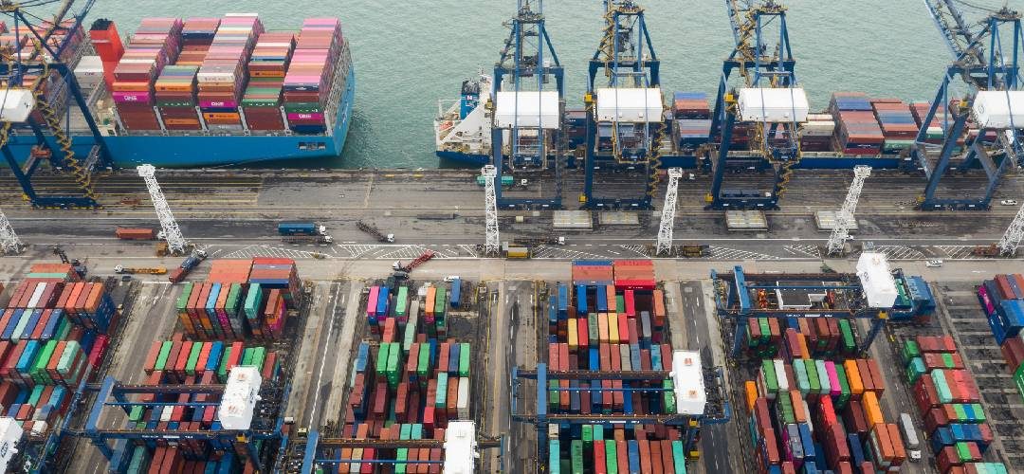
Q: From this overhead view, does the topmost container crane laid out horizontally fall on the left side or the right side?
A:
right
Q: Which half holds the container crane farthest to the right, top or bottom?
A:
top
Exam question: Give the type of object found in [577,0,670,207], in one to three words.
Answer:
container crane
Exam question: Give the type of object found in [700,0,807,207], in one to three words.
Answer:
container crane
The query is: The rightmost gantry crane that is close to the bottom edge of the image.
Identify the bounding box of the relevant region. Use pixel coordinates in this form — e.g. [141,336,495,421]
[511,355,732,464]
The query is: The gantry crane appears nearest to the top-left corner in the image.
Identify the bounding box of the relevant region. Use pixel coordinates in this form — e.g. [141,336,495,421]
[0,0,119,207]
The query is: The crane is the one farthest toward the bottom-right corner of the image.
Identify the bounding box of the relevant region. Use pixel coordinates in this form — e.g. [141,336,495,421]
[706,258,913,358]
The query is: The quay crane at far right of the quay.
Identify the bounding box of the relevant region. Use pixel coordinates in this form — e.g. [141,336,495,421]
[905,0,1024,207]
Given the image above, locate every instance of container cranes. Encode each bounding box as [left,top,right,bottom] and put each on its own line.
[484,0,573,207]
[700,0,807,207]
[278,423,511,474]
[905,0,1024,207]
[577,0,670,207]
[62,370,299,474]
[0,0,119,207]
[706,258,913,358]
[511,355,732,464]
